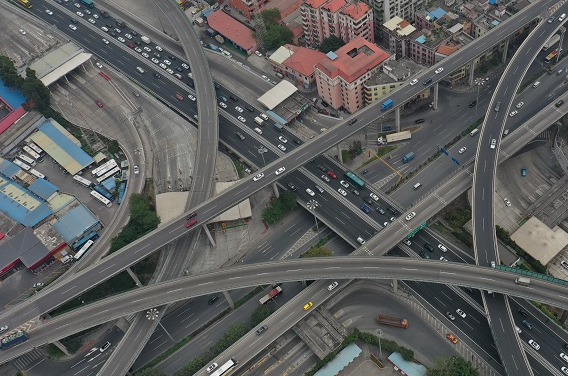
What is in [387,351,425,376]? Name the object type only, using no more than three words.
shed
